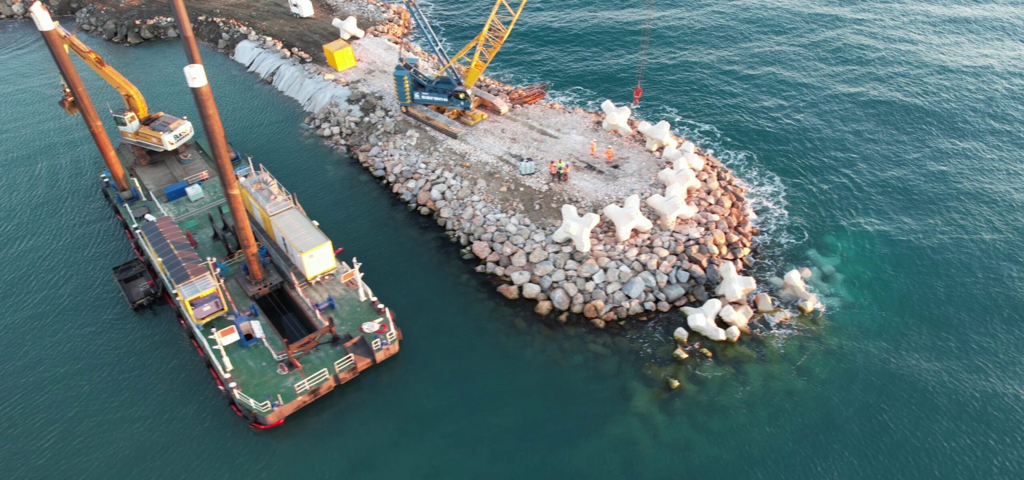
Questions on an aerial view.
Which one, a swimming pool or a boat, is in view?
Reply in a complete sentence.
I can see a boat in this picture.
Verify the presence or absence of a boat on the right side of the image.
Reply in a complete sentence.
No, the scene shows no boat on the right side of the image.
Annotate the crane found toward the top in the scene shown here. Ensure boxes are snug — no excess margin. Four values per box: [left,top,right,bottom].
[382,0,526,139]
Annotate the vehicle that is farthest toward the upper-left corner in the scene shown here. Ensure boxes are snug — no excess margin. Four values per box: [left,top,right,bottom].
[49,11,189,167]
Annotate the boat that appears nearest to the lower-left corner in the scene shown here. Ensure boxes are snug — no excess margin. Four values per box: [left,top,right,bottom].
[113,253,164,315]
